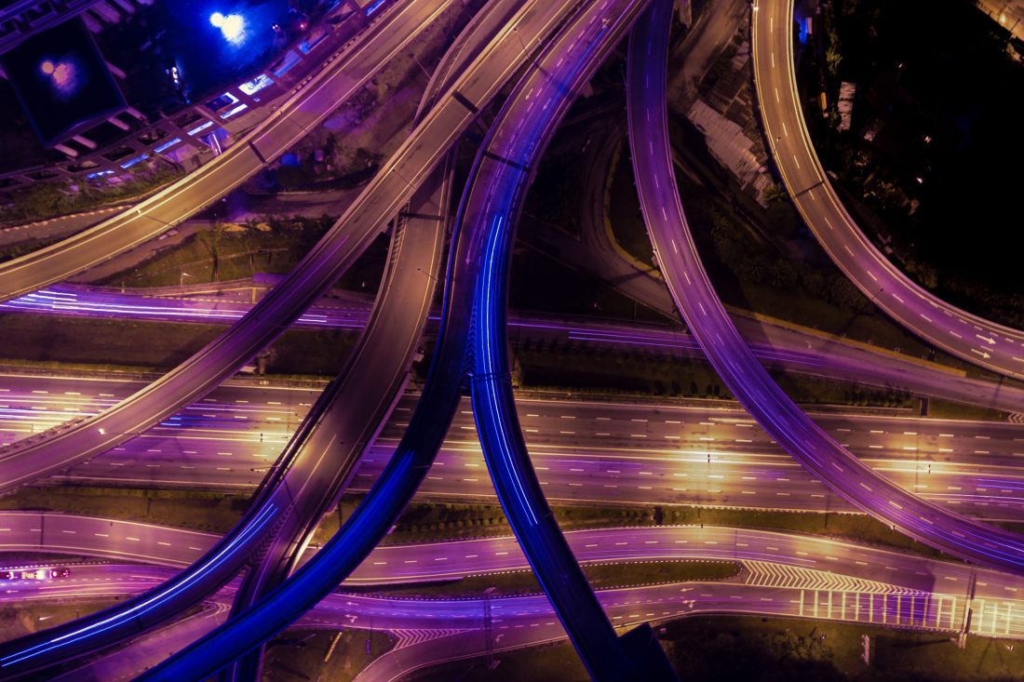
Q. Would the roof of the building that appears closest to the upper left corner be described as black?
Yes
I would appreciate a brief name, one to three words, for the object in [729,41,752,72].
shed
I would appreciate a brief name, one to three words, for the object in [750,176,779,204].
shed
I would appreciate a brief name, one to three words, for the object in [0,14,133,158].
building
